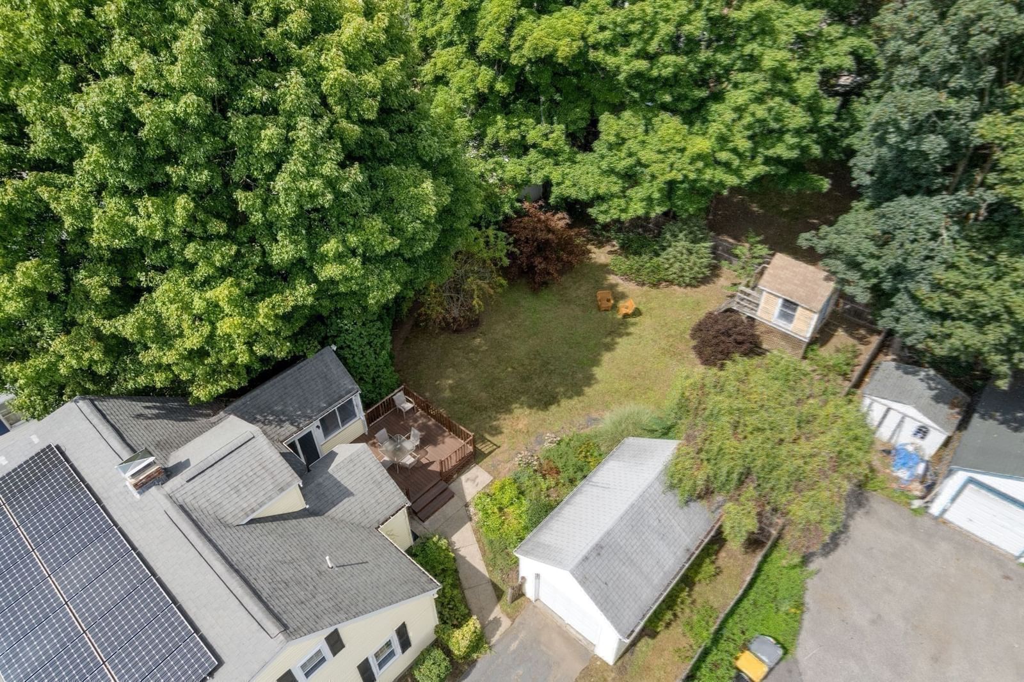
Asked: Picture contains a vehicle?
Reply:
No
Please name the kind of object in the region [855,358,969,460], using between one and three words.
shed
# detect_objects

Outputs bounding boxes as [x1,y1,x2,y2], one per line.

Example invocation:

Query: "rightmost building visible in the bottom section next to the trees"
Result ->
[930,372,1024,570]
